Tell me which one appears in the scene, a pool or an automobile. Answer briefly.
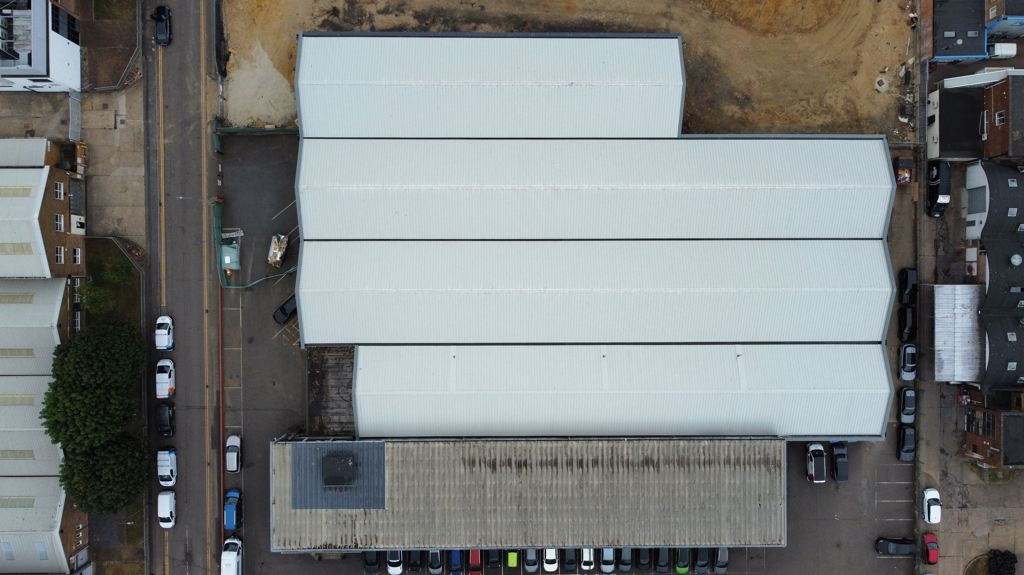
automobile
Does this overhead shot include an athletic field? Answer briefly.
No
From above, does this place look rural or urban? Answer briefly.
urban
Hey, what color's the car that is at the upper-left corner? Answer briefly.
black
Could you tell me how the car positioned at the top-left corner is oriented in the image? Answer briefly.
up and down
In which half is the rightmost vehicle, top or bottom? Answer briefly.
top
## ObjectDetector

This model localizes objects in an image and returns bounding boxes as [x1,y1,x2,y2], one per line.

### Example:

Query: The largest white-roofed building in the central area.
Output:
[295,31,896,440]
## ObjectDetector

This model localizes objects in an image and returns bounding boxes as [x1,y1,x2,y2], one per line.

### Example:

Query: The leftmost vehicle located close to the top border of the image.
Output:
[155,6,176,46]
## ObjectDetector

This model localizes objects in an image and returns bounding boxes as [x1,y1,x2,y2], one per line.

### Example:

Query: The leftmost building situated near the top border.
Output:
[0,0,81,94]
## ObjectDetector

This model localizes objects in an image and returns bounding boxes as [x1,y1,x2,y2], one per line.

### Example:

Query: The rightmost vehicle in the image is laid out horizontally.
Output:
[980,40,1023,60]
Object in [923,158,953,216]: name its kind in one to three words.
truck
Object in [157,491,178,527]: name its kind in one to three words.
vehicle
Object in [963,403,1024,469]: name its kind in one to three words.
building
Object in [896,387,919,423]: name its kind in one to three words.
car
